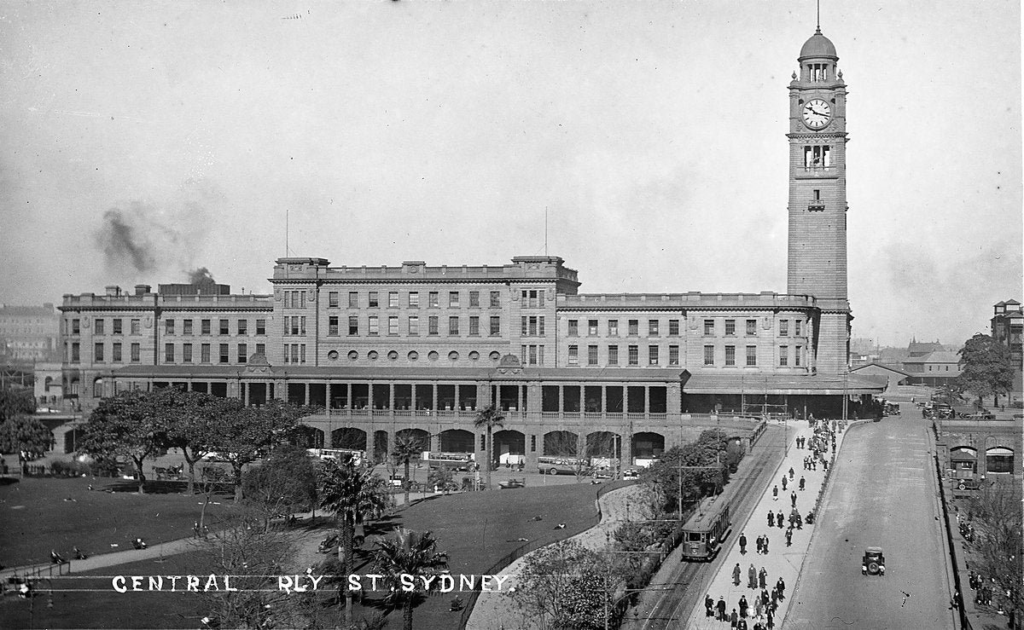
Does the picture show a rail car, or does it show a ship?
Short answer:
rail car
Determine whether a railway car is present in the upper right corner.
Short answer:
No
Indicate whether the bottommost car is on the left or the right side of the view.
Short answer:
right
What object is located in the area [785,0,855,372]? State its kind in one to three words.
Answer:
building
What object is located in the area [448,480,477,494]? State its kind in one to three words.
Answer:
car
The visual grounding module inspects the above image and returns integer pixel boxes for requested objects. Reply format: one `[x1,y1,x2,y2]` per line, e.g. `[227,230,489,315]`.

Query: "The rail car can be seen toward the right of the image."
[681,478,729,558]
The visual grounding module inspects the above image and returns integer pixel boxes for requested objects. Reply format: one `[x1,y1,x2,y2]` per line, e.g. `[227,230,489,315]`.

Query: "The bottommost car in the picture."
[862,550,882,577]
